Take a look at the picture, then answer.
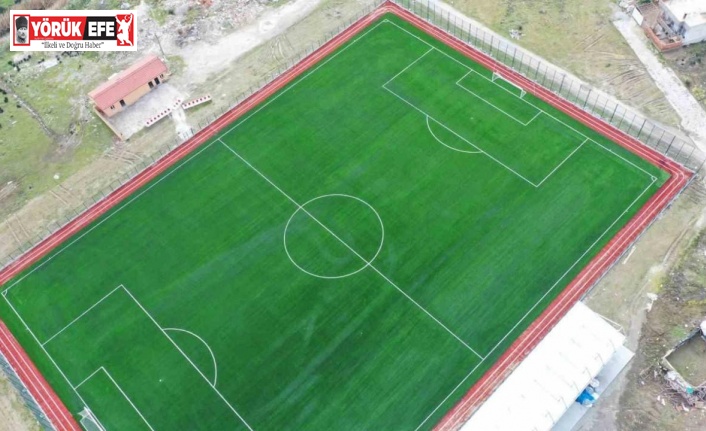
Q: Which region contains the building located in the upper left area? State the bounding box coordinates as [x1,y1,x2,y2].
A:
[88,57,170,117]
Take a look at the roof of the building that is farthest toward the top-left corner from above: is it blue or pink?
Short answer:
pink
